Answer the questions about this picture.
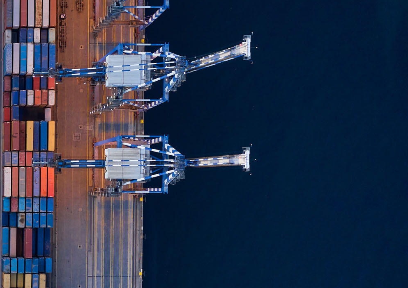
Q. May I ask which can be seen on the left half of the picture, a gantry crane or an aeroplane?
gantry crane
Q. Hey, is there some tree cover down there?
No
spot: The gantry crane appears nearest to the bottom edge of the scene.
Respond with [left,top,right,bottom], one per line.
[31,132,252,204]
